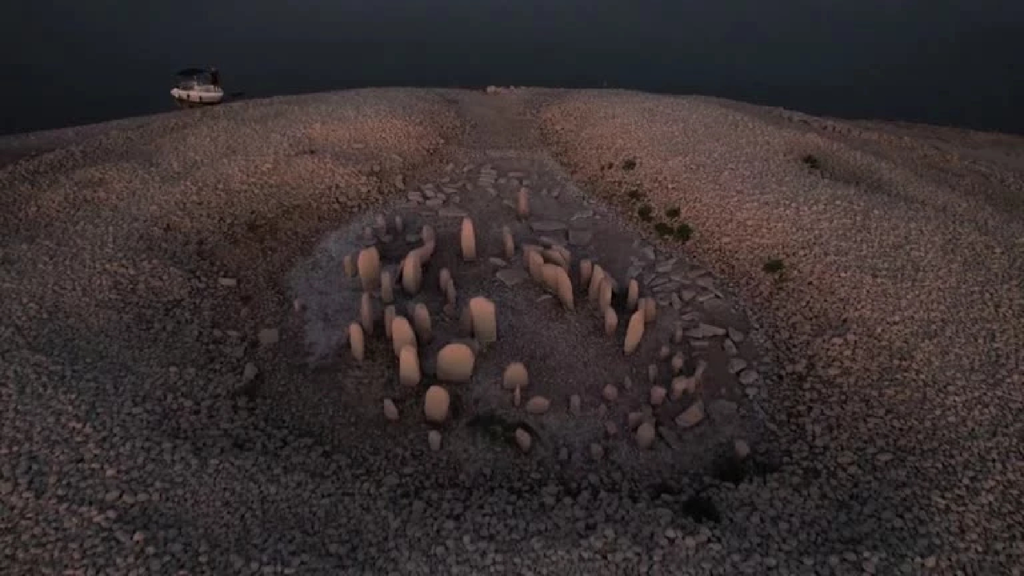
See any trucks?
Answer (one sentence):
No, no truck can be seen from above.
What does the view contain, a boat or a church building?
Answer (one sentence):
I can see a boat in this picture.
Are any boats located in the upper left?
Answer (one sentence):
Yes, there is a boat in the upper left.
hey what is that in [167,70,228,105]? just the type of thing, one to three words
boat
